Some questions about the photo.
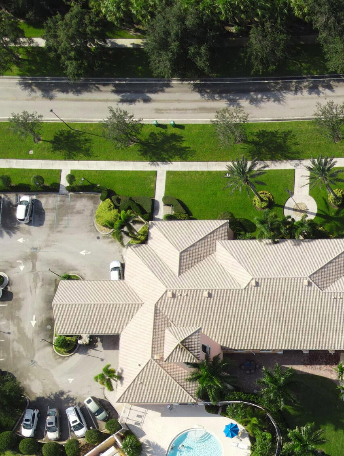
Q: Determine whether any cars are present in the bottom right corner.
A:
No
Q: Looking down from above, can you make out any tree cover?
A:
Yes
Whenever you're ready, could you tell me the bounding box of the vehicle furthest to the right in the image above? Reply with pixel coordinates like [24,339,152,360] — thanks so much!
[109,257,125,280]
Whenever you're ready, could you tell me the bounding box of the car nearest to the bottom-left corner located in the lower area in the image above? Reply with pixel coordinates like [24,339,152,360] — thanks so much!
[21,409,42,438]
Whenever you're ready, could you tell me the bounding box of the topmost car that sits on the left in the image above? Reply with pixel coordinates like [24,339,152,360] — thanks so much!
[17,198,34,223]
